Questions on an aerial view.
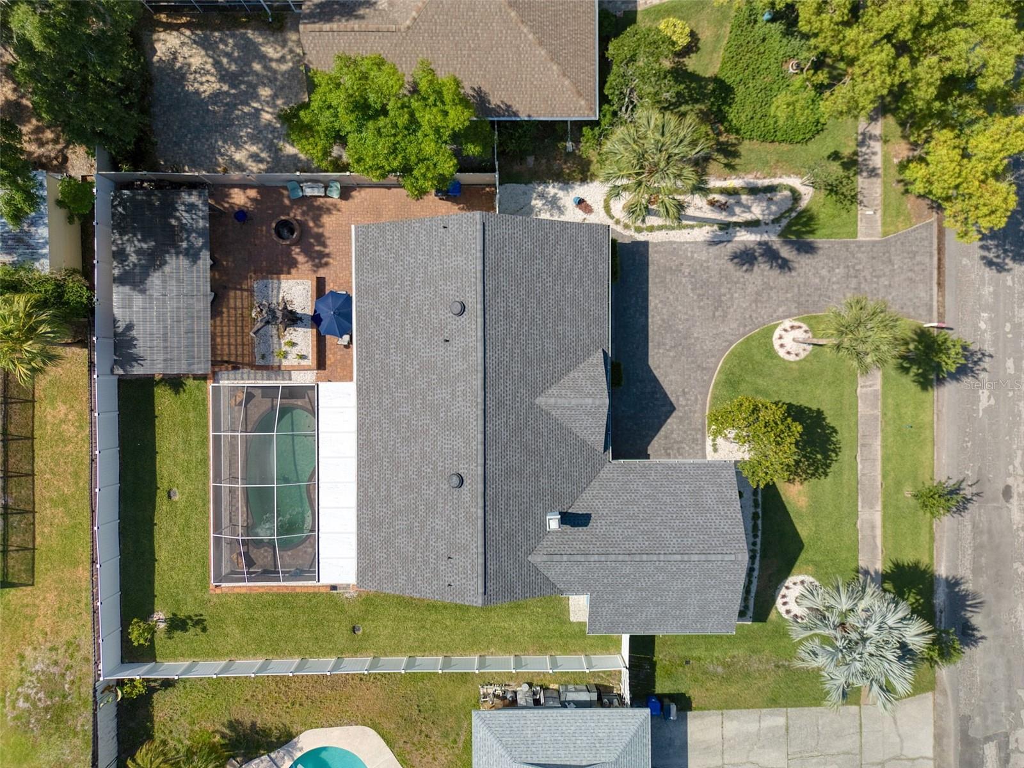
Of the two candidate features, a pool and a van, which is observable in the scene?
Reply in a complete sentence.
The image shows a pool.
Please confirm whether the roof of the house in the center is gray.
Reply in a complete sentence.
Yes, gray is the color of the roof of the house in the center.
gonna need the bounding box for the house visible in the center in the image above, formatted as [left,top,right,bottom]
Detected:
[353,213,747,635]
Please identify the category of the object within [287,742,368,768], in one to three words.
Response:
swimming pool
